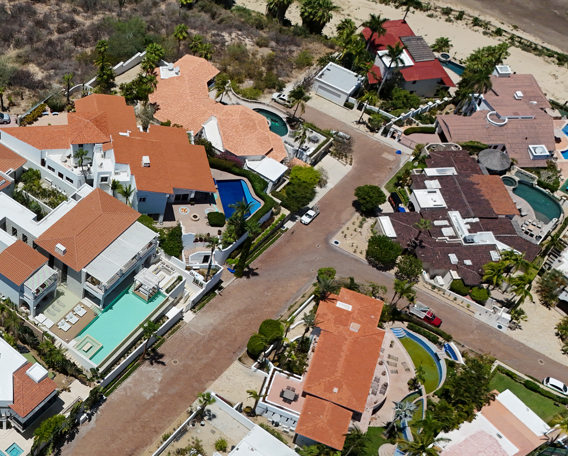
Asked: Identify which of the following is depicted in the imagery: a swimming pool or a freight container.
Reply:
swimming pool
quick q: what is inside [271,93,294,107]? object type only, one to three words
car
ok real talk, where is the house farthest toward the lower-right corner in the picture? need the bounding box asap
[428,389,550,456]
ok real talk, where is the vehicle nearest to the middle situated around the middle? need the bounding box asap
[300,207,319,225]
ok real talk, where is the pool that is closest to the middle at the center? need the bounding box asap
[213,177,265,223]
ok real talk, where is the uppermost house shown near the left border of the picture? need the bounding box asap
[0,93,216,215]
